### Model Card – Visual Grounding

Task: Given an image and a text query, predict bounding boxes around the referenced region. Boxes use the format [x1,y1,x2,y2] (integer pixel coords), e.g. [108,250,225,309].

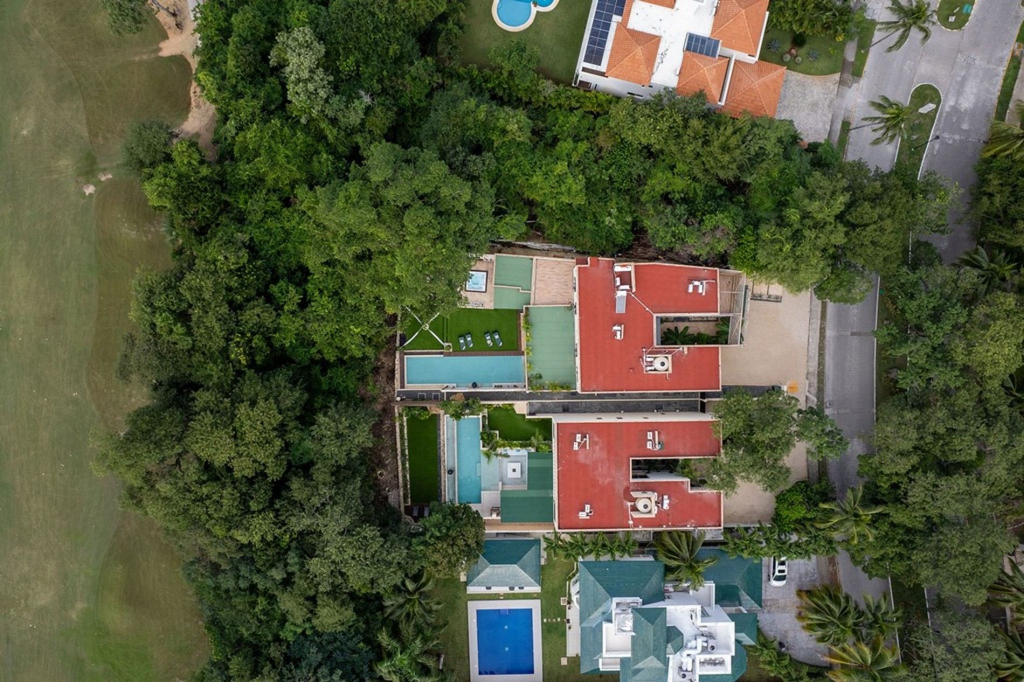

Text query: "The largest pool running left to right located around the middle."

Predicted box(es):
[403,354,524,389]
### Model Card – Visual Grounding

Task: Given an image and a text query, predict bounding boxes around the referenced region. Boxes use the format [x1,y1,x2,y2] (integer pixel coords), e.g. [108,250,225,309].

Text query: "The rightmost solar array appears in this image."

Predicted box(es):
[685,32,721,59]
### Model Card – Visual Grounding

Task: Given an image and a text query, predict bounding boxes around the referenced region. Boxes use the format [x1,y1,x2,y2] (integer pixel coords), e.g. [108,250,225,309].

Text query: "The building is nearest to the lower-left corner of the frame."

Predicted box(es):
[467,535,541,593]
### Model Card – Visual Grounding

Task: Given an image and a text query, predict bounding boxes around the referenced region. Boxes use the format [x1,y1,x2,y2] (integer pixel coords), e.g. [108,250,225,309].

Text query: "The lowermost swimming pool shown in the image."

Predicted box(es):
[469,597,543,682]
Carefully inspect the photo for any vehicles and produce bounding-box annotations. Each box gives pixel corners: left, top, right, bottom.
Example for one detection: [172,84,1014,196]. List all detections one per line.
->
[769,548,789,586]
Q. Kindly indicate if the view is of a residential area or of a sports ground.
residential area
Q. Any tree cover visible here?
Yes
